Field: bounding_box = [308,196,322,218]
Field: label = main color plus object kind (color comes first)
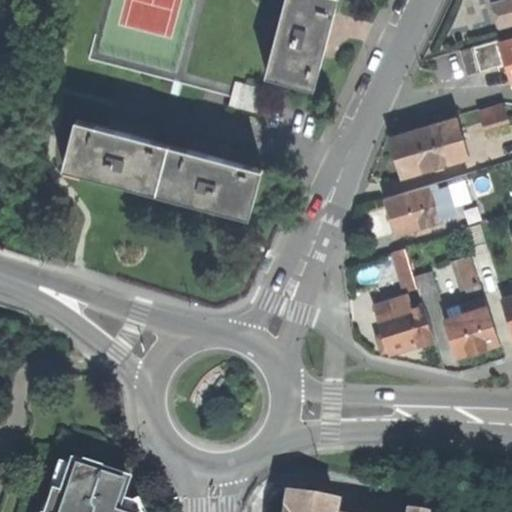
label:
red car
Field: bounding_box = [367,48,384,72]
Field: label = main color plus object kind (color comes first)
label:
white vehicle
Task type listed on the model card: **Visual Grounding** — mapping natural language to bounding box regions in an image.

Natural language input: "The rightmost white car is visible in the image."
[483,267,496,291]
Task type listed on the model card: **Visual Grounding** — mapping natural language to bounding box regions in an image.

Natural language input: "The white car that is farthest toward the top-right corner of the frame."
[449,54,464,80]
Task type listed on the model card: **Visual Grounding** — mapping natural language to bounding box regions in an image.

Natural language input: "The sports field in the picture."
[187,0,284,83]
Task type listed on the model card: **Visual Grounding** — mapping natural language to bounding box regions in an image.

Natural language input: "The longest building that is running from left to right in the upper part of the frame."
[60,124,262,222]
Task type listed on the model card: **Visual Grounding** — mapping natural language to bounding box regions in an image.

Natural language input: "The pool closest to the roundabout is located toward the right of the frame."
[356,266,382,284]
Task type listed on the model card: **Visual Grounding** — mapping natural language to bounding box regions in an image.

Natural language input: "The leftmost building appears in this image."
[42,456,144,512]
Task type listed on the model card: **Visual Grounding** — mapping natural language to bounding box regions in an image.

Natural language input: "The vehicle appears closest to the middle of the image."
[272,268,285,290]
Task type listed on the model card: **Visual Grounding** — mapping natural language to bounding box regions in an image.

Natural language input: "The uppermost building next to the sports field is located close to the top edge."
[264,0,338,96]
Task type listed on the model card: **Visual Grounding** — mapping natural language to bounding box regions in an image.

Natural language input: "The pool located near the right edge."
[470,172,496,198]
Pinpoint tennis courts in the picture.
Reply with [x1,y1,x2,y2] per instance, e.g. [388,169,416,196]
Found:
[100,0,191,73]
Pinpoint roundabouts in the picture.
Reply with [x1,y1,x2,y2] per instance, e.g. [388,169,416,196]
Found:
[144,326,290,472]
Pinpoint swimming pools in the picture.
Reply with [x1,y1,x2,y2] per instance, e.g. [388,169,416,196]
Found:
[356,266,382,284]
[470,172,496,198]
